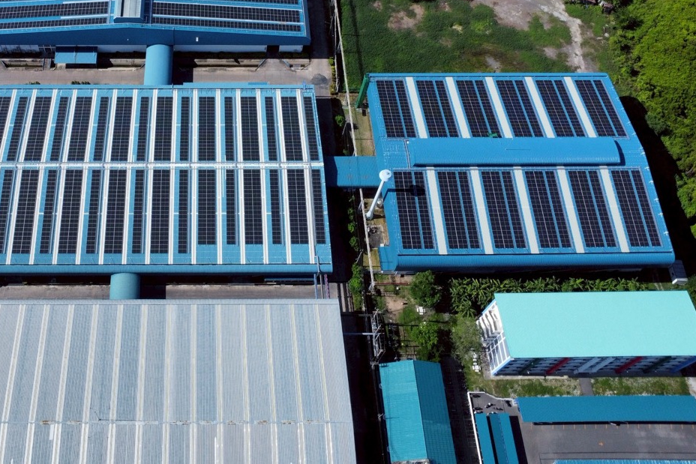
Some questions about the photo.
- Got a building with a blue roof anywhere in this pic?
Yes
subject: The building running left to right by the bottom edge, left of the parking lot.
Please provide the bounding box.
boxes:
[0,301,356,464]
